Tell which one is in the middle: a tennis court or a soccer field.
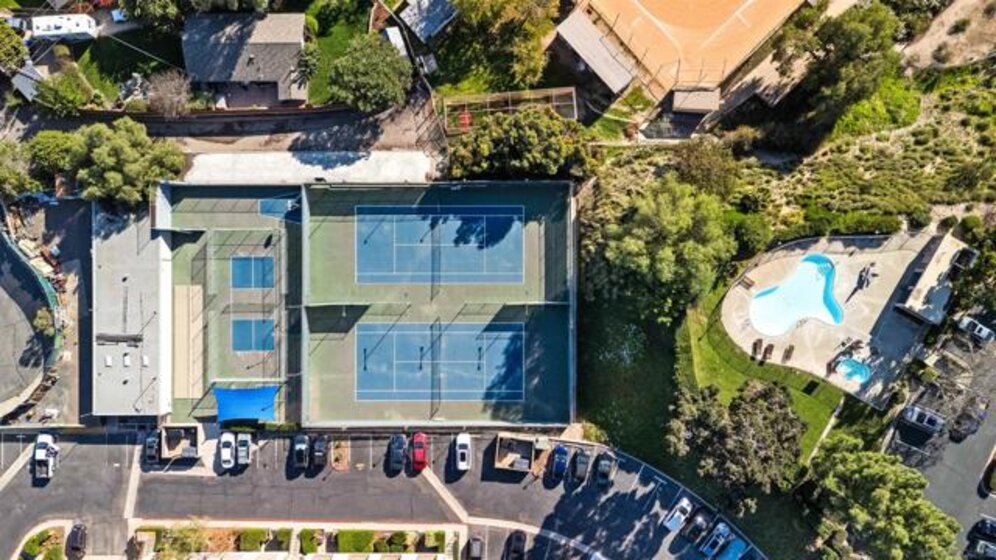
tennis court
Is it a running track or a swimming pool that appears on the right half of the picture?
swimming pool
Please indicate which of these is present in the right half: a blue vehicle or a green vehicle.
blue vehicle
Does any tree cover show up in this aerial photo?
Yes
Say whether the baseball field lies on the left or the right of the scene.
right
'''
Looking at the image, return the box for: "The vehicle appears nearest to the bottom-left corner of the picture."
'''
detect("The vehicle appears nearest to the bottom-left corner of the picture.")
[66,524,87,560]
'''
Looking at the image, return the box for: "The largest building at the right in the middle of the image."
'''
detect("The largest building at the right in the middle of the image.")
[880,233,969,325]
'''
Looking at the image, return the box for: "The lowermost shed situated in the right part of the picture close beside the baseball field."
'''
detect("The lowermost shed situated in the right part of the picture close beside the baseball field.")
[669,88,720,116]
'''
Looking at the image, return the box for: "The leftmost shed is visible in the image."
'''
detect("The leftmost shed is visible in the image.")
[12,60,51,102]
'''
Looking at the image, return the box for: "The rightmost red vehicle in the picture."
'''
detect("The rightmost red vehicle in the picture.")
[411,433,428,469]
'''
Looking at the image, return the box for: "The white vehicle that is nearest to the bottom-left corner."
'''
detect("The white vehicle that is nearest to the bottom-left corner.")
[36,434,57,476]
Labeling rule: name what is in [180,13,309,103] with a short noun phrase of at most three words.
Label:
house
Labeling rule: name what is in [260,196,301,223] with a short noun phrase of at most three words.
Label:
basketball court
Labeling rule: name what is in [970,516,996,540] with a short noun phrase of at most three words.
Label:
car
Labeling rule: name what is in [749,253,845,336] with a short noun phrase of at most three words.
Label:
swimming pool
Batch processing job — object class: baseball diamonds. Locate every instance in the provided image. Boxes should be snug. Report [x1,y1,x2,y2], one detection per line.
[591,0,803,97]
